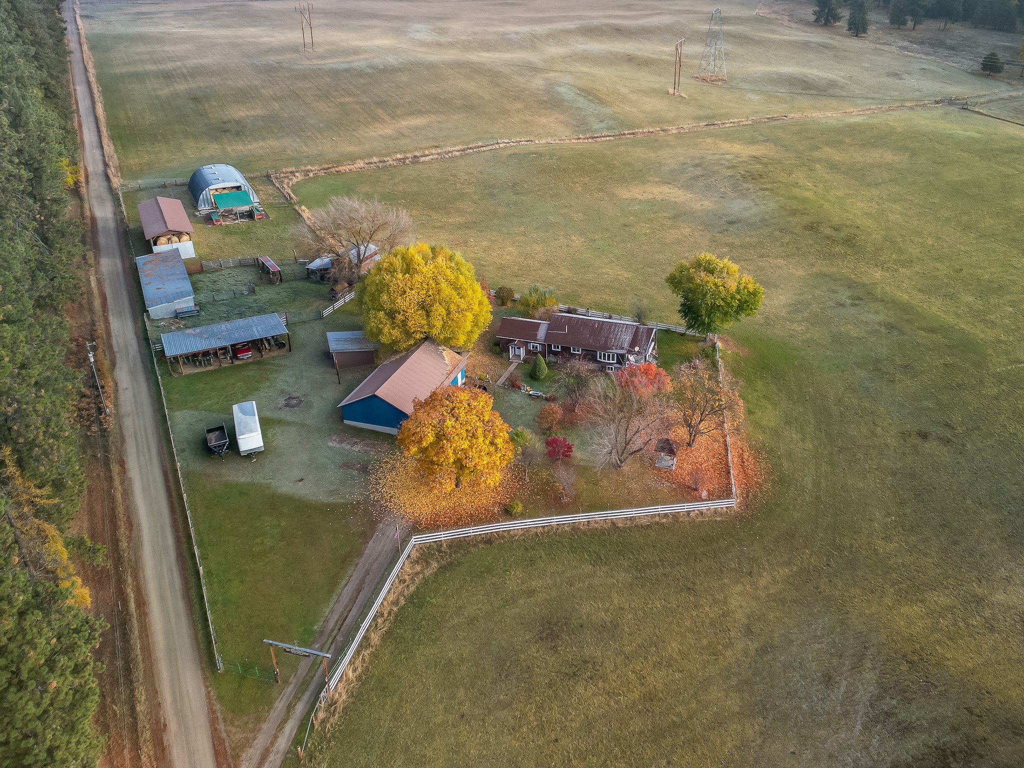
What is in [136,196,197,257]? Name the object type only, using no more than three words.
barn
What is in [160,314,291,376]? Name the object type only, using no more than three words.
shed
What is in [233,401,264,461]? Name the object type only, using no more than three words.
trailer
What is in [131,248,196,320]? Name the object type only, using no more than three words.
shed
